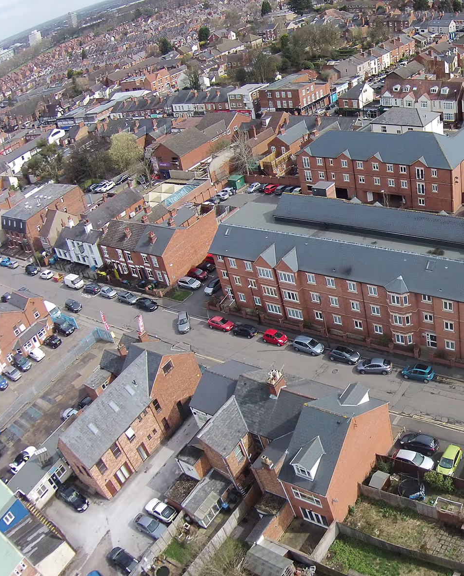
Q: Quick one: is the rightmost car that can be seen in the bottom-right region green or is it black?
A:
green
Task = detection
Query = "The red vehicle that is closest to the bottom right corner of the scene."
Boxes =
[262,328,289,345]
